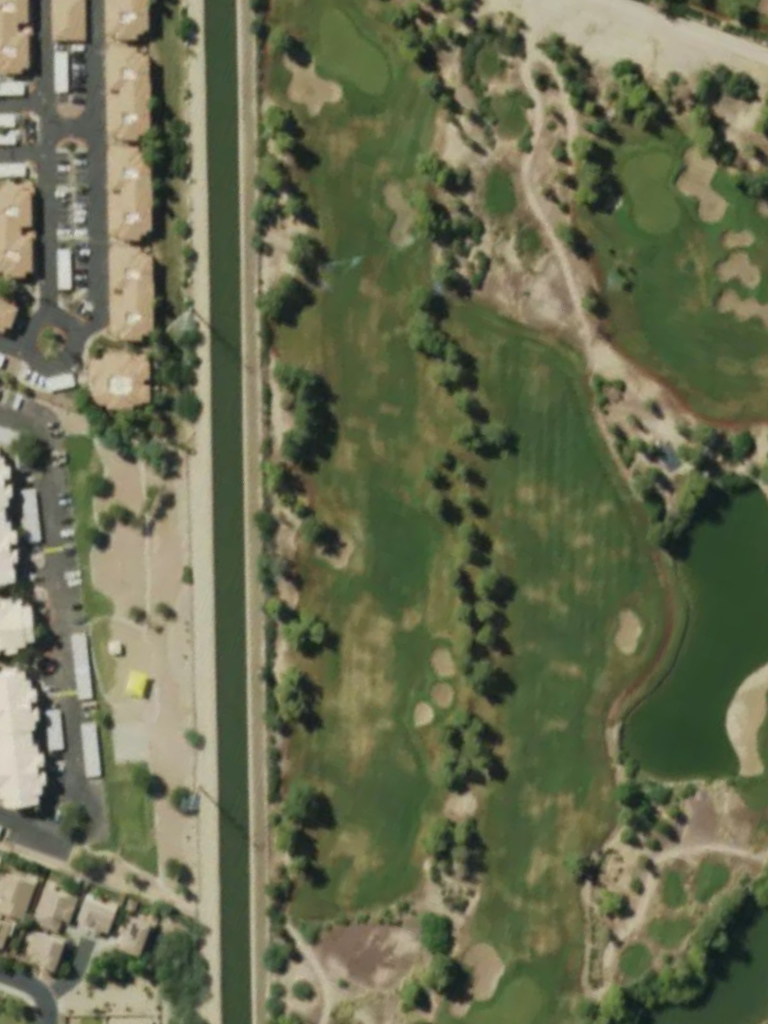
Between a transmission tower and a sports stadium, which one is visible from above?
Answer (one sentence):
Looking from above, you can make out a transmission tower.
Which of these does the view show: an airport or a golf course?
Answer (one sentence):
It's a golf course.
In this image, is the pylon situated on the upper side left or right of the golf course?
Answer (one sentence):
Relative to the golf course, the pylon situated on the upper side is on the left.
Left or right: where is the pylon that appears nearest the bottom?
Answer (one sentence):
The pylon that appears nearest the bottom is on the left side of the image.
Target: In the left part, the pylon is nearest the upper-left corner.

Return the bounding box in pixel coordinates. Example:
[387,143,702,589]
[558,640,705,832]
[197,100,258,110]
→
[153,308,192,329]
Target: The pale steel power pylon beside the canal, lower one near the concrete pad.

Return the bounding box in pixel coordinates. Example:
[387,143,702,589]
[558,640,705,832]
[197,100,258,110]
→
[162,785,201,809]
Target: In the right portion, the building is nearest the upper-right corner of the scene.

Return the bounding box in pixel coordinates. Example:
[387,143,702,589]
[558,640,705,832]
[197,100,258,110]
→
[661,443,681,472]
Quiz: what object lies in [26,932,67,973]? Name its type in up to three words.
house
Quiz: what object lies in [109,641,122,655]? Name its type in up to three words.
gazebo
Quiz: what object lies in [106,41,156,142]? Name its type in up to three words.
building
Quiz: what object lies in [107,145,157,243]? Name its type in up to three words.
building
